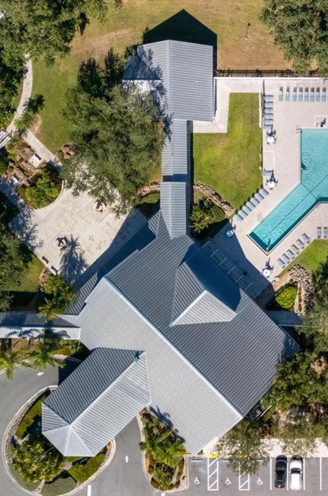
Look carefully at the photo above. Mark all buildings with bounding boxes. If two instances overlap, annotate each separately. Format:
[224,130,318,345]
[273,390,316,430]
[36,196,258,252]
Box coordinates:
[42,210,299,455]
[121,39,213,122]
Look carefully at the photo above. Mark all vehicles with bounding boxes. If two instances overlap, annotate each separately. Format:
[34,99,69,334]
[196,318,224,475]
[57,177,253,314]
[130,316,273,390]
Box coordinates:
[288,457,303,488]
[273,457,287,488]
